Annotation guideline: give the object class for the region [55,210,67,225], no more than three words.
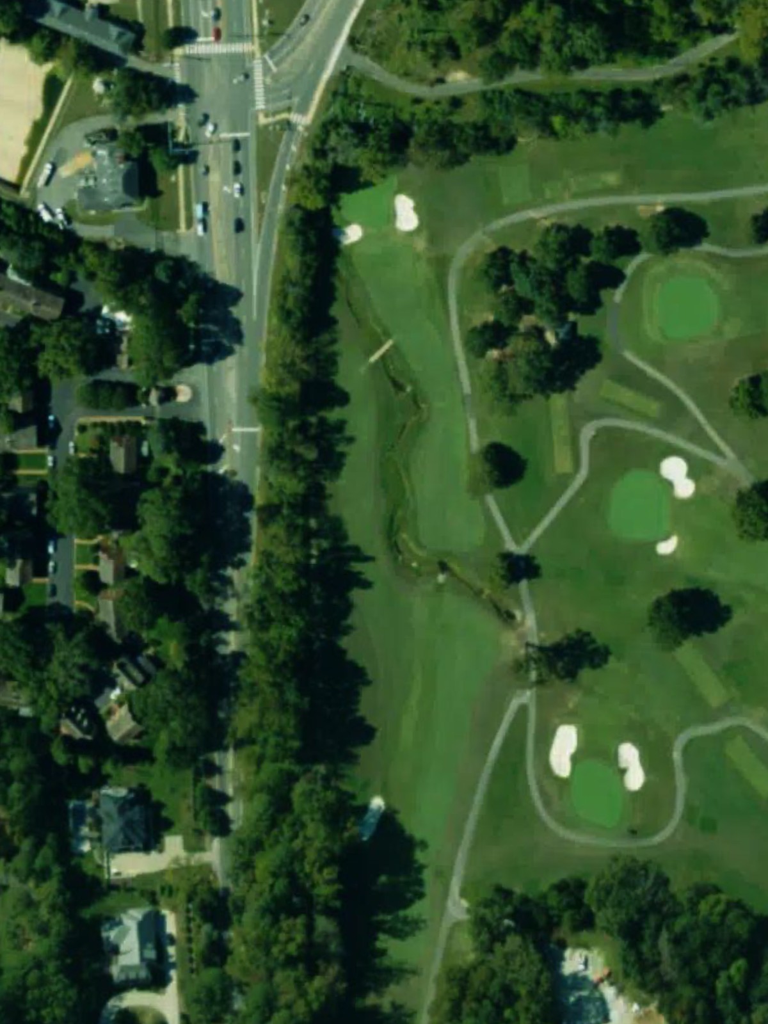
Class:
vehicle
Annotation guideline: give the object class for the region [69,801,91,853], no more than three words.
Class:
swimming pool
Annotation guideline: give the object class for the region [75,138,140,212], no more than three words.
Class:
building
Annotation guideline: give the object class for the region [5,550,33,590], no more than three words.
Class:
house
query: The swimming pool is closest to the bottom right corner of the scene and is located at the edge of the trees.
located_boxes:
[558,985,616,1024]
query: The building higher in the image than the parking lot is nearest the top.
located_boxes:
[30,0,139,60]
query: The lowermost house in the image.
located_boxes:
[100,898,156,985]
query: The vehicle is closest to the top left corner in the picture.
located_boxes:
[38,163,53,187]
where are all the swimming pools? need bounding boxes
[69,801,91,853]
[558,985,616,1024]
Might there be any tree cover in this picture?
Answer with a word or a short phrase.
Yes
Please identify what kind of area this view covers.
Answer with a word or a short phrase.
golf course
